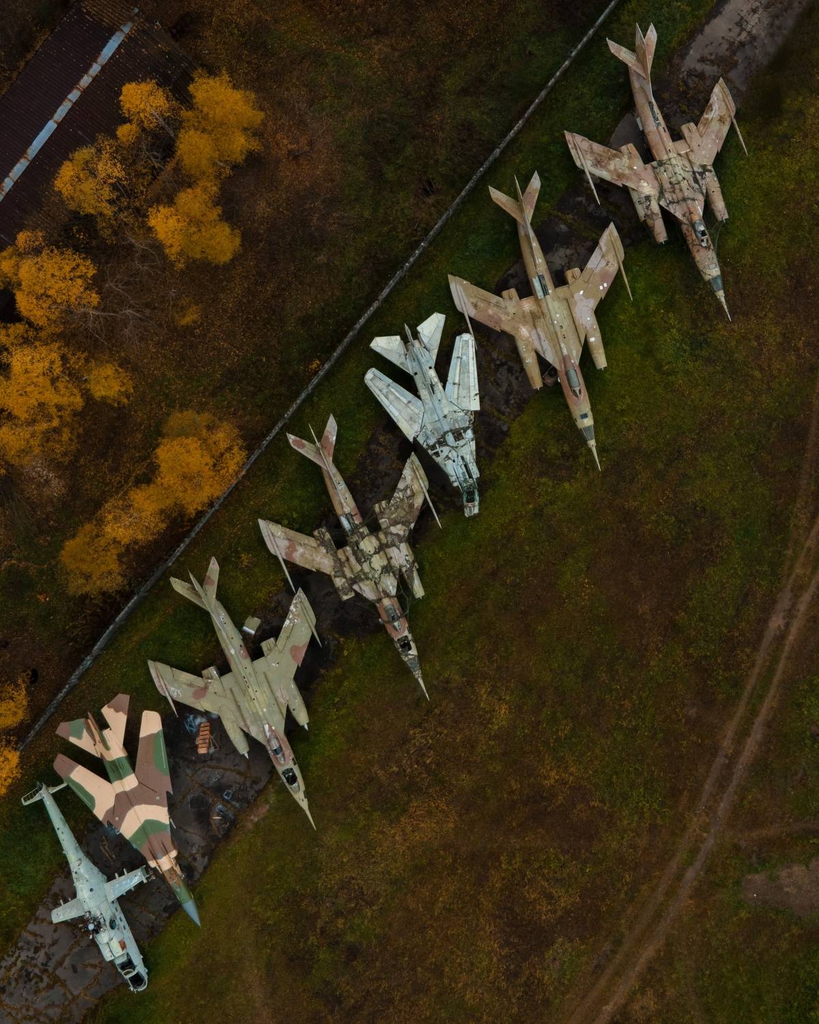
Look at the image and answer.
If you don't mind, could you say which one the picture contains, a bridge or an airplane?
airplane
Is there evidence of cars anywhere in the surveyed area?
No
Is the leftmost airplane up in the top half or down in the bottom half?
bottom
